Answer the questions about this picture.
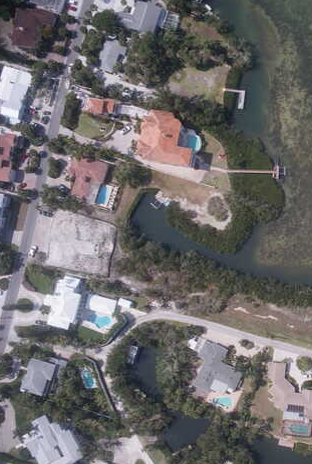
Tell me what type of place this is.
residential area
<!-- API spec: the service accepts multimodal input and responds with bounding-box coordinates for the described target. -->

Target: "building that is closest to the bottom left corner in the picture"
[21,415,85,464]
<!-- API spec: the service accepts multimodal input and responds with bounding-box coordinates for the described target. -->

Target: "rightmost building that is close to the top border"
[116,2,162,33]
